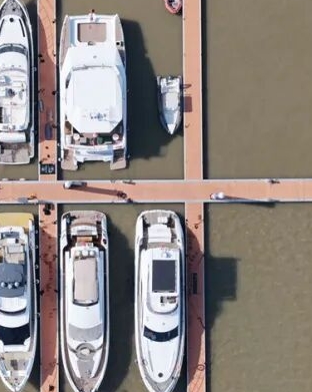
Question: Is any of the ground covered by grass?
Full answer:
No, the picture contains no grass.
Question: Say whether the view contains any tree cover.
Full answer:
No, the picture contains no tree cover.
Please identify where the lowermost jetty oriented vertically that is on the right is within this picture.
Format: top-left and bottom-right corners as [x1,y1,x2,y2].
[185,202,206,392]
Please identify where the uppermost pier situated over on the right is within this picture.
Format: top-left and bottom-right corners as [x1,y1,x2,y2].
[183,0,203,180]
